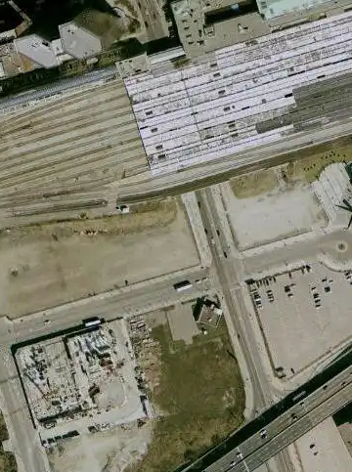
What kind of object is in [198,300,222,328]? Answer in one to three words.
building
